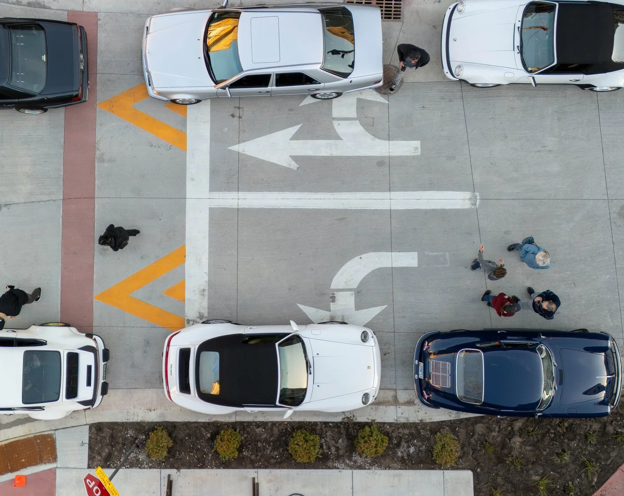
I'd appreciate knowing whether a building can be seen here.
No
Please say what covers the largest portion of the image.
paved ground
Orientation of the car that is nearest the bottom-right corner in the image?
from left to right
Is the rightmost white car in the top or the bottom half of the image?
top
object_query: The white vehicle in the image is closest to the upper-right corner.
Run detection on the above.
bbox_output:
[443,0,624,88]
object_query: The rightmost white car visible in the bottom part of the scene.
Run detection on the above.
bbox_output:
[162,320,377,417]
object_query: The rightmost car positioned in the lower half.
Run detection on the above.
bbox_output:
[413,327,622,419]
